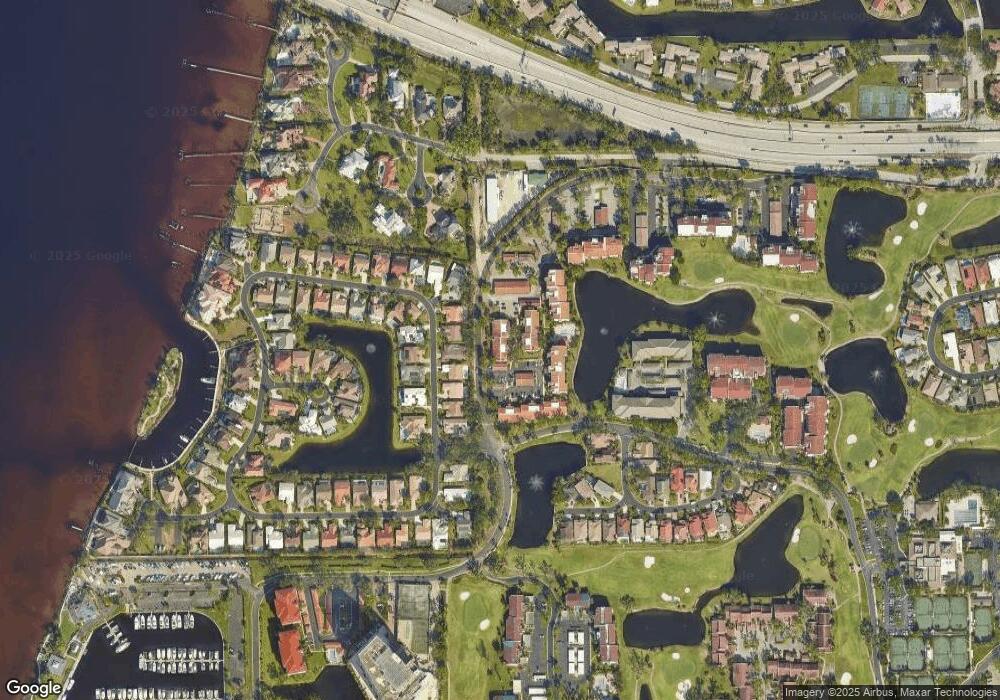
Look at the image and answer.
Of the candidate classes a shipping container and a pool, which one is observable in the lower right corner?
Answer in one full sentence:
What appears in the lower right corner is a pool.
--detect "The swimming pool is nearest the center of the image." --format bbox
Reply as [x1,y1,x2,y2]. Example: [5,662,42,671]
[555,323,575,338]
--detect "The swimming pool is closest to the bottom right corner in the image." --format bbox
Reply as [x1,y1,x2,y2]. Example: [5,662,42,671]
[944,493,983,528]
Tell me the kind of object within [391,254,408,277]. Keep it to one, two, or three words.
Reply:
house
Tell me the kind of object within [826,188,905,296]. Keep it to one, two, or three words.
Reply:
pond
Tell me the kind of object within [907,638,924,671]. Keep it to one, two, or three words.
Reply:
tennis court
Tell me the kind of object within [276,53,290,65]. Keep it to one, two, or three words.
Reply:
swimming pool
